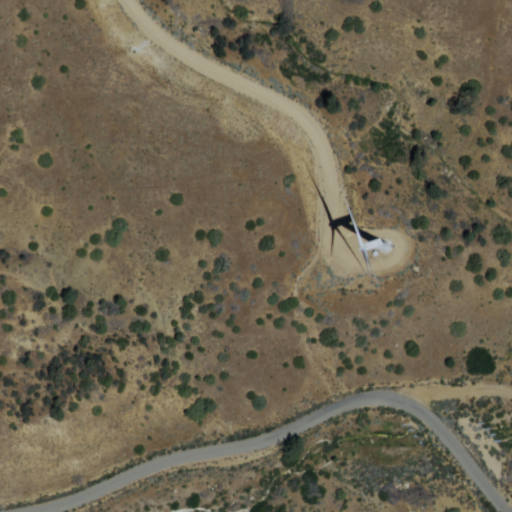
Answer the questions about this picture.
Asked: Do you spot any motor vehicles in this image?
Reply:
No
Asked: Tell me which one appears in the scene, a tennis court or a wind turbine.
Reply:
wind turbine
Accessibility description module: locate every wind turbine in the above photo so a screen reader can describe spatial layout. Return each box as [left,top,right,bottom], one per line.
[340,187,394,281]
